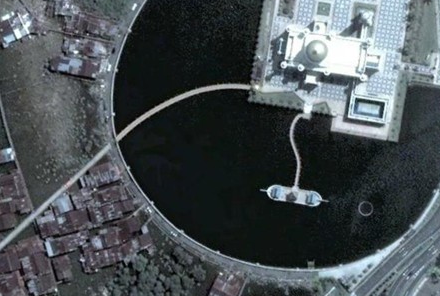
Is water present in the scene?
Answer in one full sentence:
Yes, there is water in the image.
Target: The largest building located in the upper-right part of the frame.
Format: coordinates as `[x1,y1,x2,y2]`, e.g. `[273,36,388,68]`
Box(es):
[273,22,380,84]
